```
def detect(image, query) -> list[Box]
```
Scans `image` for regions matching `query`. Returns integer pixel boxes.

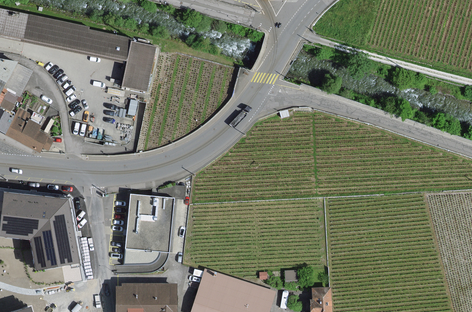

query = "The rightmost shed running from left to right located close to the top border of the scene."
[23,14,130,60]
